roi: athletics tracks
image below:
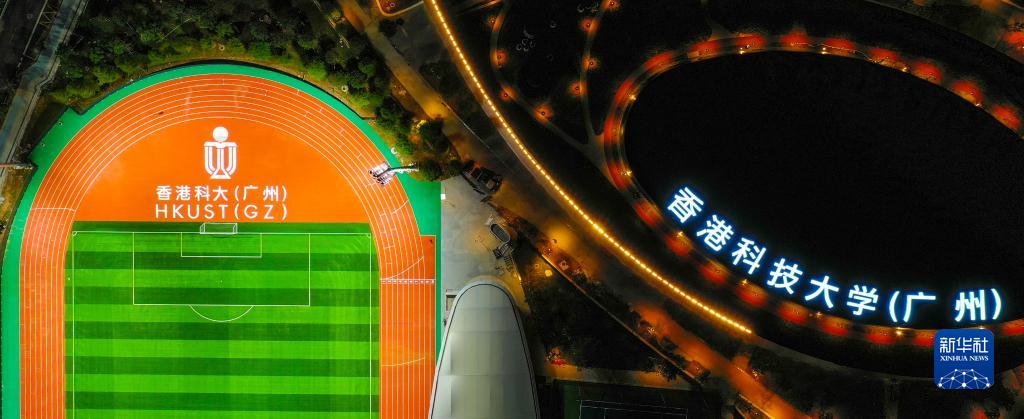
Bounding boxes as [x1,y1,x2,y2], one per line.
[1,64,441,419]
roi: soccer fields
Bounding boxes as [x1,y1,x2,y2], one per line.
[64,221,379,419]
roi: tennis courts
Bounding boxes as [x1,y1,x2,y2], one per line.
[553,380,707,419]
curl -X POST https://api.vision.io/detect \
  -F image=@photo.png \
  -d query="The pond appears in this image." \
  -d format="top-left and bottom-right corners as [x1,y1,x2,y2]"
[622,52,1024,330]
